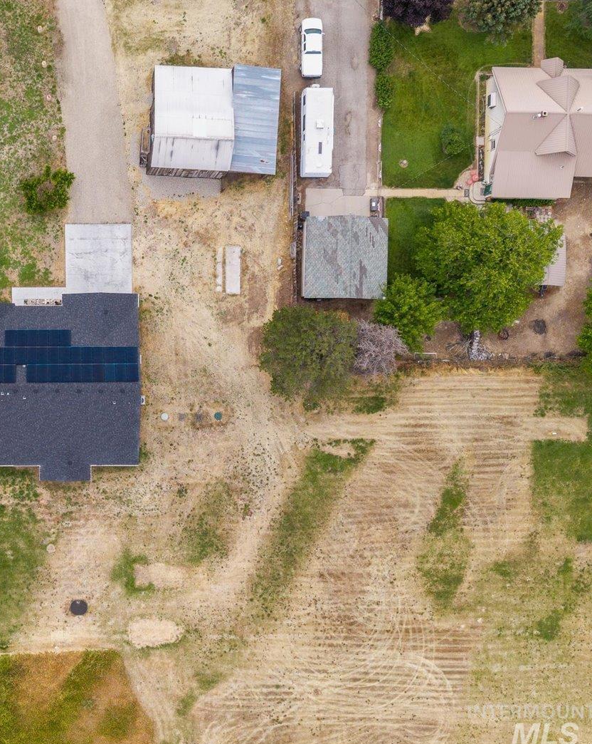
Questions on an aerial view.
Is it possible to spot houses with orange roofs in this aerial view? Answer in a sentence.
No, the picture doesn't show any house with an orange roof.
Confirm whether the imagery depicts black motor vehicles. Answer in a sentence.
No, there's no black motor vehicle here.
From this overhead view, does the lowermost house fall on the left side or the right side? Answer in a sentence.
The lowermost house is on the left side of the image.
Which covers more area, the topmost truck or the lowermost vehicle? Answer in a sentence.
The vehicle takes up more space than the truck.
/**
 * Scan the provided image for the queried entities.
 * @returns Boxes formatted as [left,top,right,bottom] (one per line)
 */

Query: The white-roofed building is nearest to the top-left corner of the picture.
[148,66,234,176]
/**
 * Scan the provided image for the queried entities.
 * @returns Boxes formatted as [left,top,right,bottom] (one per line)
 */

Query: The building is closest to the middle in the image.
[298,215,388,300]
